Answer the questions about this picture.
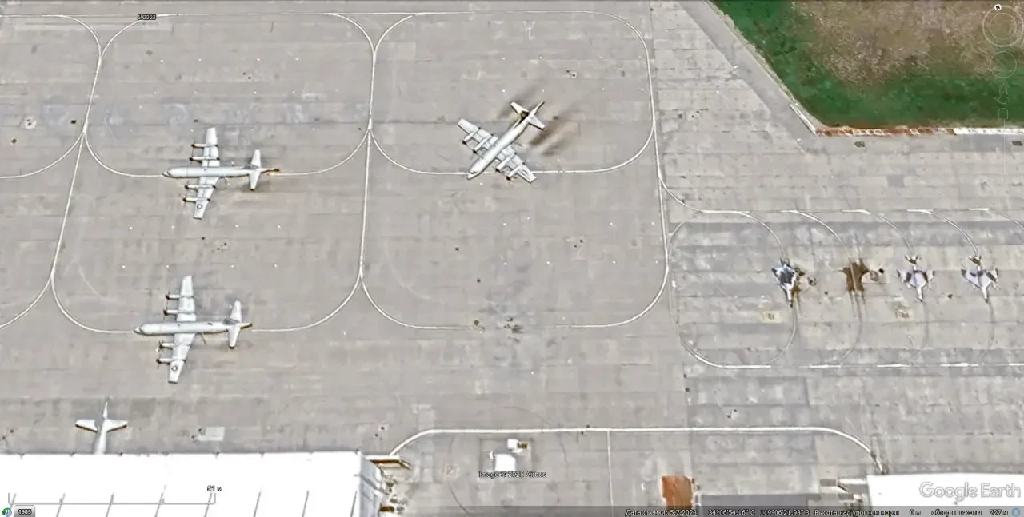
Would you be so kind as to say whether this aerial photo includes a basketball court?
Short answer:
No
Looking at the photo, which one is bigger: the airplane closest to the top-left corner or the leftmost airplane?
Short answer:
the airplane closest to the top-left corner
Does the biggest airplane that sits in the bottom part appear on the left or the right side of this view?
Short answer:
left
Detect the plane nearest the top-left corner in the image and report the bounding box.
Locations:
[164,124,280,217]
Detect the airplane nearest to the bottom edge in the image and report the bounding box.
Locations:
[76,398,129,460]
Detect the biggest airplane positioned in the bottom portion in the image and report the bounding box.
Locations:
[134,275,252,383]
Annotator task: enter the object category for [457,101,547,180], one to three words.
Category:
airplane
